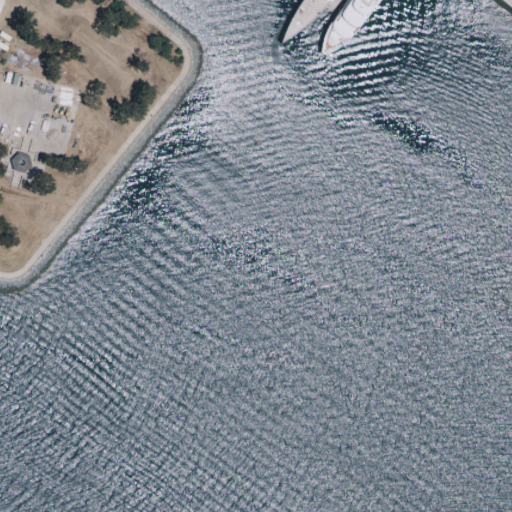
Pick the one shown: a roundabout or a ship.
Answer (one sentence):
There is a ship in the scene.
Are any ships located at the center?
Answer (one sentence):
No, no ship is visible at the center.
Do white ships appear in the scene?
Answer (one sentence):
Yes, there's a white ship here.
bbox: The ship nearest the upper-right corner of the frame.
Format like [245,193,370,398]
[320,0,380,54]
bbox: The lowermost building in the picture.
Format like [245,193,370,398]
[12,152,32,172]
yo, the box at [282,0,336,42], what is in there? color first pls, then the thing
white ship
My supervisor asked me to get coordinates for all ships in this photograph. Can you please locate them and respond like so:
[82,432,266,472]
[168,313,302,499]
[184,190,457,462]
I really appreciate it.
[282,0,336,42]
[320,0,380,54]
